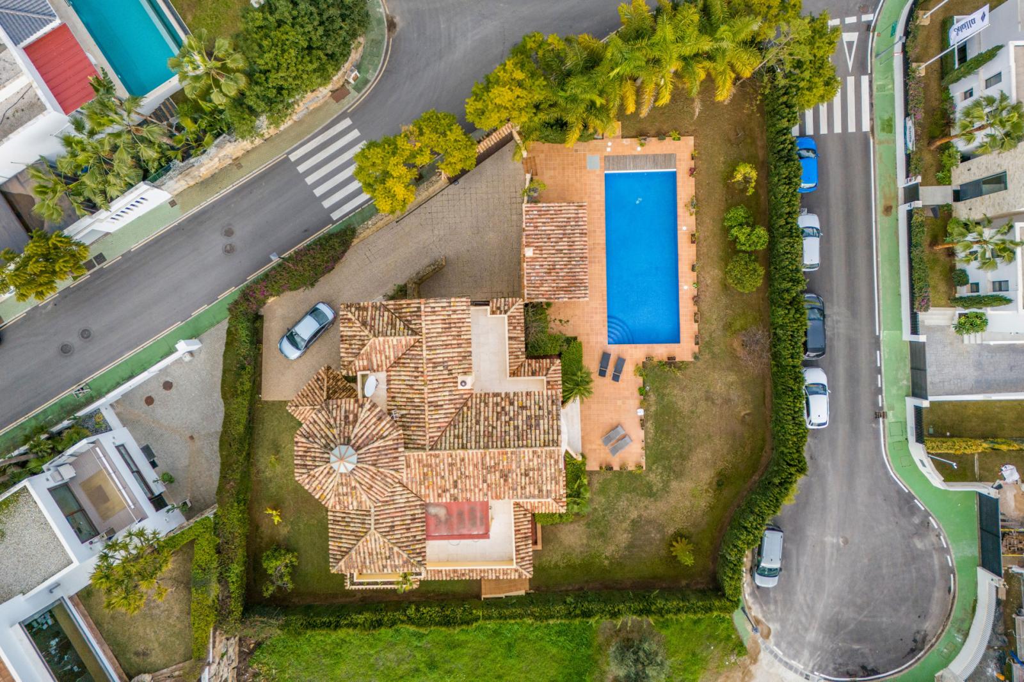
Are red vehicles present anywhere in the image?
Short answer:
No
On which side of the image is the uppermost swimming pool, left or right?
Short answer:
left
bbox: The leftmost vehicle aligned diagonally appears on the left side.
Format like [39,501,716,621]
[276,298,339,362]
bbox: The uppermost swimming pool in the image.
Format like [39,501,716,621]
[54,0,193,109]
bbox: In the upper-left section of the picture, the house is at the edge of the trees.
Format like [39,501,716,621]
[0,0,111,237]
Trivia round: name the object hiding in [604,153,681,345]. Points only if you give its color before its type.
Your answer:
blue swimming pool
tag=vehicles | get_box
[276,298,339,362]
[797,214,825,272]
[797,293,831,361]
[795,137,823,194]
[751,526,790,589]
[799,366,834,431]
